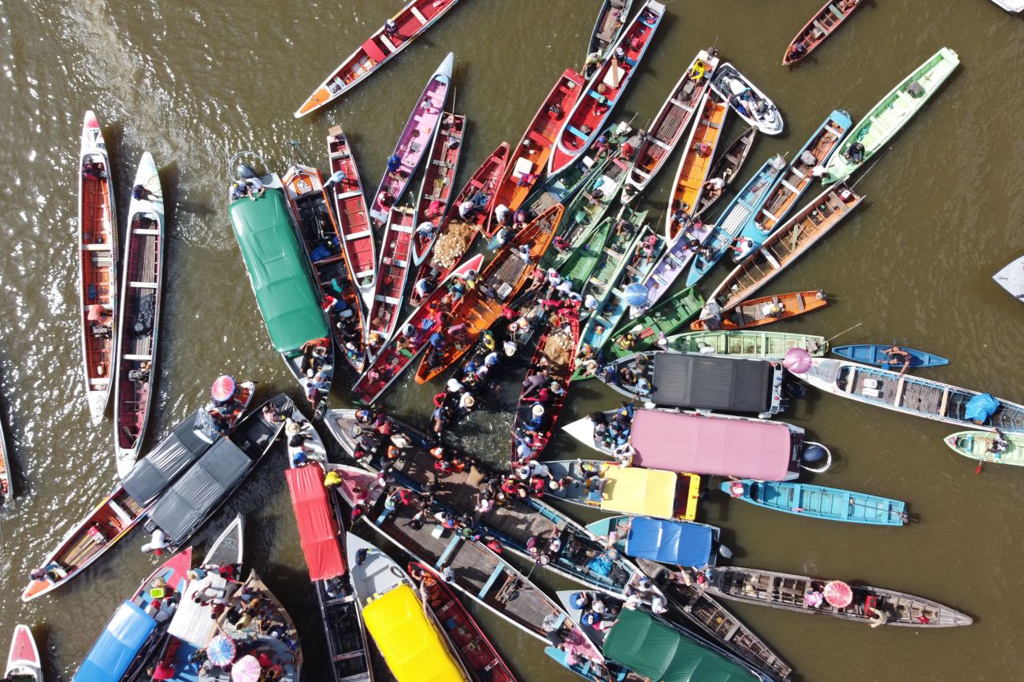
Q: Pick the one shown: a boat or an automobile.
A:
boat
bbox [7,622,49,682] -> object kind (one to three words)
boat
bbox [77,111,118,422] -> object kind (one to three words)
boat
